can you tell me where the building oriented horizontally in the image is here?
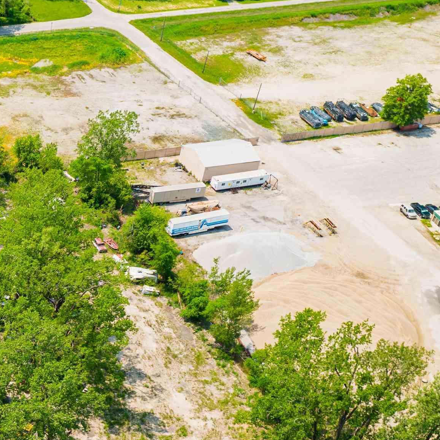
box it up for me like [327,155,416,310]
[179,137,267,179]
